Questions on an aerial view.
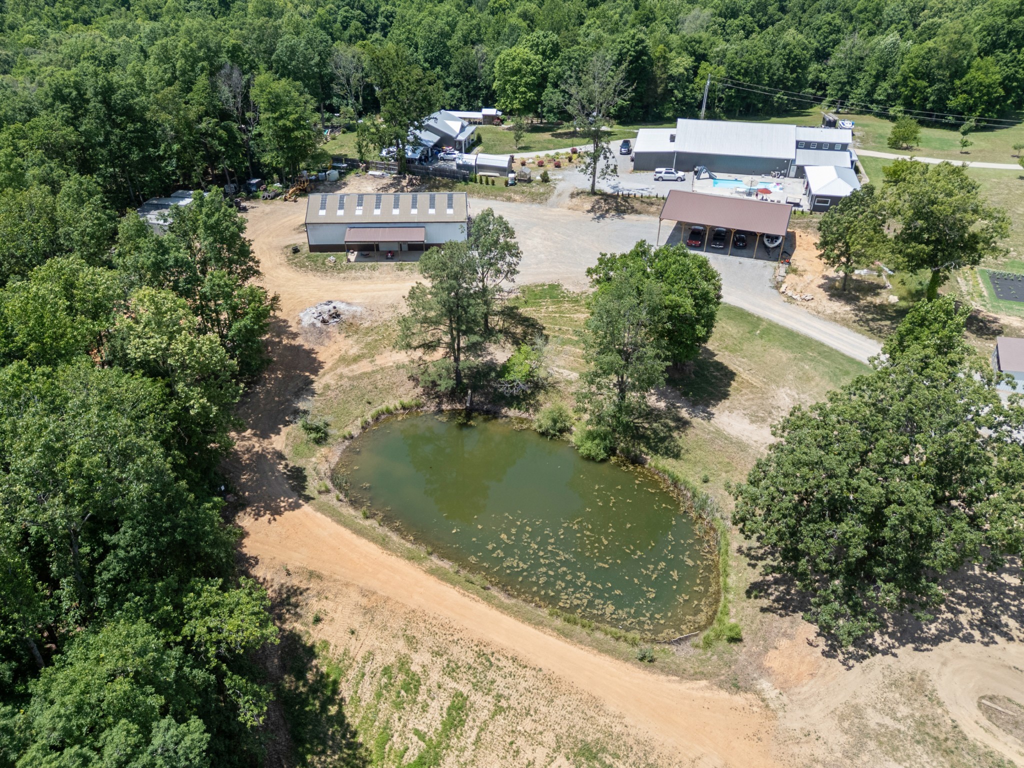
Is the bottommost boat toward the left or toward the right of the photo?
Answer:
right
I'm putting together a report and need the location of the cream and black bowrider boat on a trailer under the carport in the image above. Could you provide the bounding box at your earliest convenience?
[761,233,782,264]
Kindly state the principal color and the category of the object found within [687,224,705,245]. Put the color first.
black vehicle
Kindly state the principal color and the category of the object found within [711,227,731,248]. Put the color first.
black vehicle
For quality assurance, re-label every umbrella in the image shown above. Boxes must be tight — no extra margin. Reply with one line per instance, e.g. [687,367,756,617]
[742,172,765,196]
[757,180,777,198]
